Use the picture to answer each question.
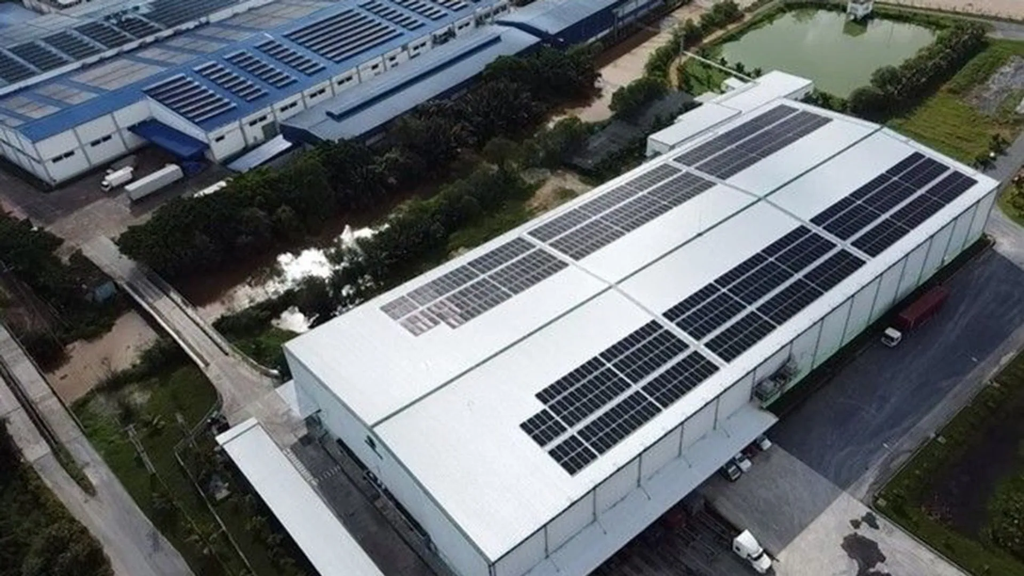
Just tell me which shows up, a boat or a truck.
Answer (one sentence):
The one in the frame is a truck.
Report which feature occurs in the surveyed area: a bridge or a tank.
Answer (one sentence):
There is a bridge in the scene.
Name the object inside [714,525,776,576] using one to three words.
truck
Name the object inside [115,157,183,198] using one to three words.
trailer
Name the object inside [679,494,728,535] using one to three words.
trailer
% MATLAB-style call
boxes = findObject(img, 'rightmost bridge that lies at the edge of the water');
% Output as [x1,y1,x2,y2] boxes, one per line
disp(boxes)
[90,235,279,374]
